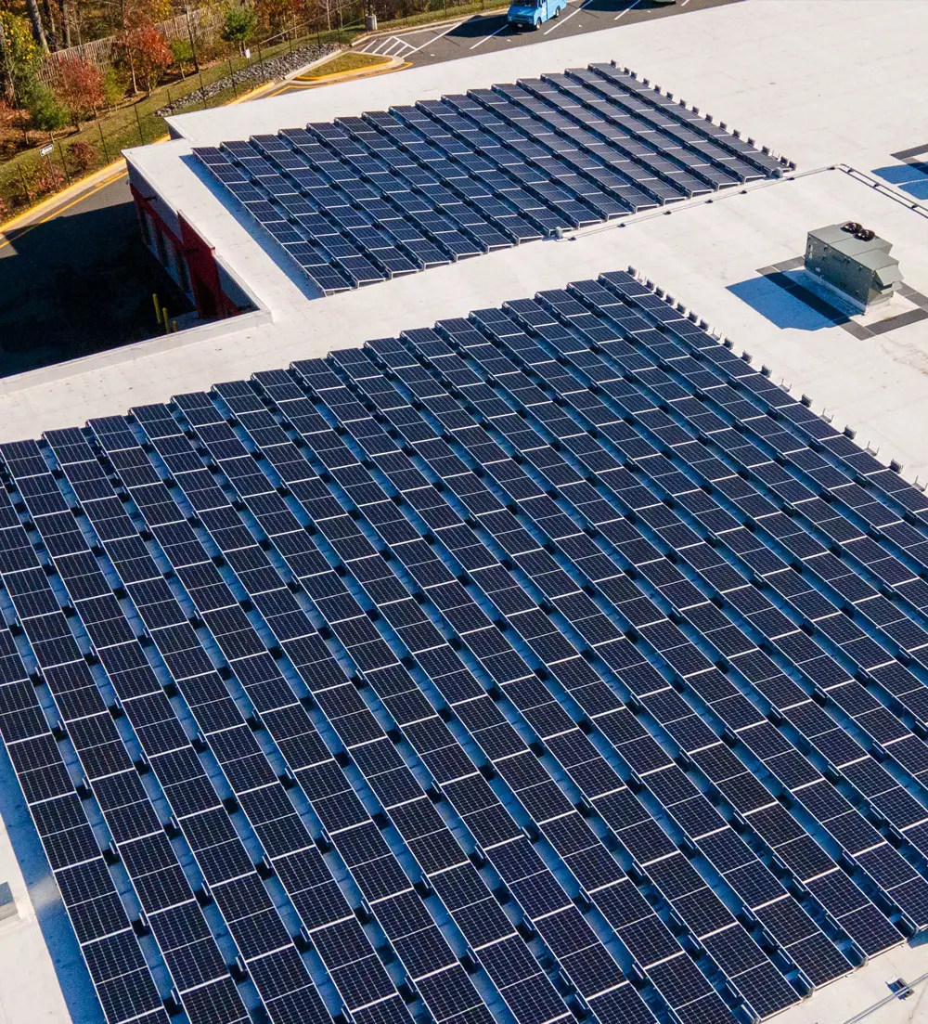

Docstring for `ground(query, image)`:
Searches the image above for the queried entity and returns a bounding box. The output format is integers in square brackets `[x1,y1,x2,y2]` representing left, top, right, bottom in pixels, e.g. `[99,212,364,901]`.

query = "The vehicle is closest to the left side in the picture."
[506,0,569,30]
